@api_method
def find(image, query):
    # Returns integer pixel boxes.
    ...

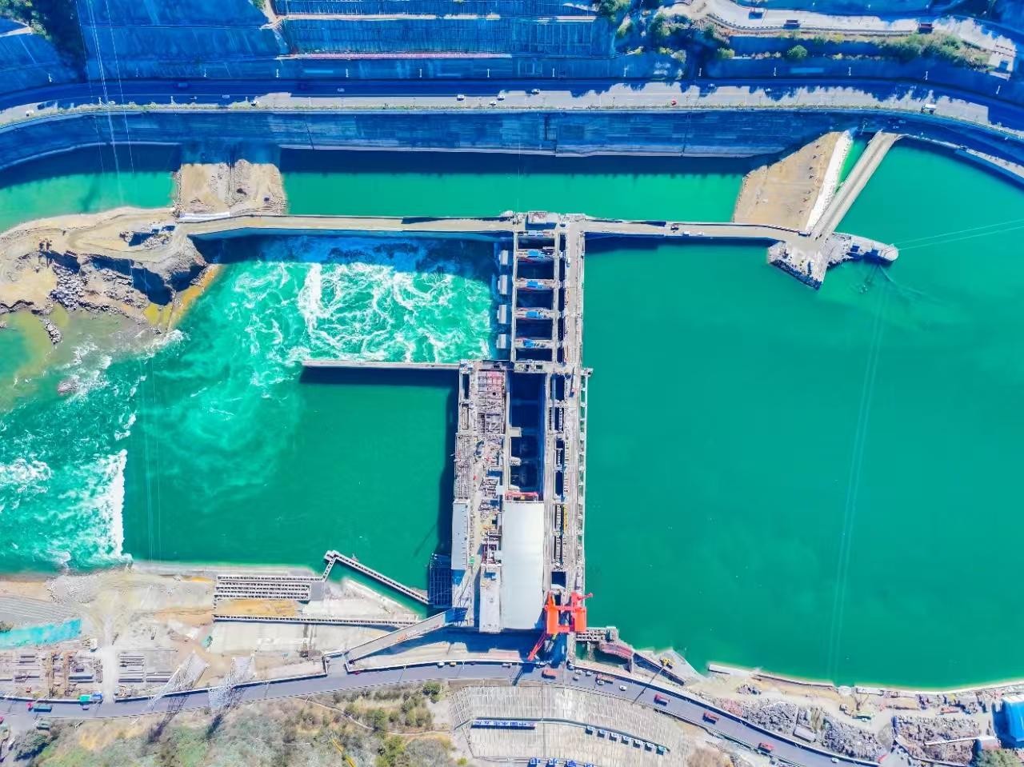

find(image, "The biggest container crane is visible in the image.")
[524,588,592,663]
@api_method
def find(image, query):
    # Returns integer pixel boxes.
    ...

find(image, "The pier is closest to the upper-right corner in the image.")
[836,234,897,263]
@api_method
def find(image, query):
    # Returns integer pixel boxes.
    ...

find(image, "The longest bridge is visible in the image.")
[326,604,467,674]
